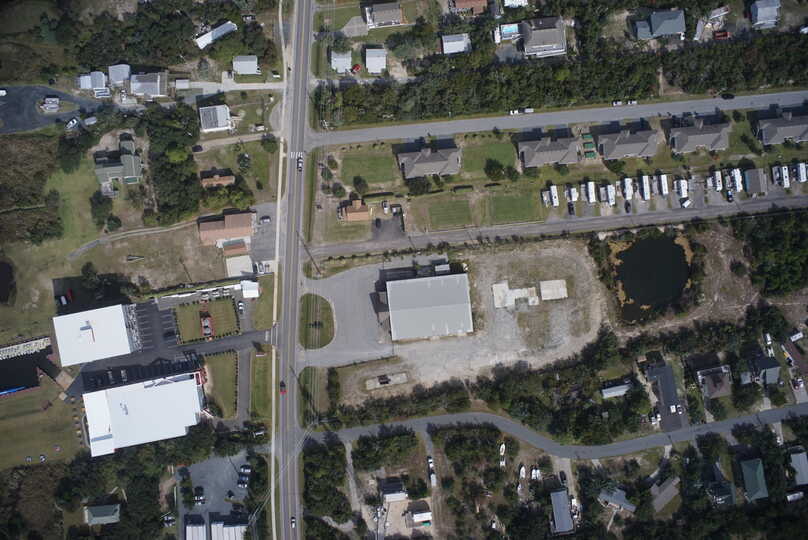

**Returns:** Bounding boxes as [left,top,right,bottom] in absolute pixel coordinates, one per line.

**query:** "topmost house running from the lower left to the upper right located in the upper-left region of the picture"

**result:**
[196,21,236,51]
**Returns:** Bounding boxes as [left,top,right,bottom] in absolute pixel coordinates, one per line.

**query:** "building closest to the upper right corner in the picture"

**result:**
[750,0,780,30]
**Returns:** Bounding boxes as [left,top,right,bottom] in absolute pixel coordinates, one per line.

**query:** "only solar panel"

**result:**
[202,107,219,129]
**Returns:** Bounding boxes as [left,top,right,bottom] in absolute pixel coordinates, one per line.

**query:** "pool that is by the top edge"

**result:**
[501,23,518,39]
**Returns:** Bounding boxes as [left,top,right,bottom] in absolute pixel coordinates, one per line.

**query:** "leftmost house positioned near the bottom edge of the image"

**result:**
[84,504,122,524]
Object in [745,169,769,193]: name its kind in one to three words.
building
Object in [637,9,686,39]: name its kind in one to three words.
house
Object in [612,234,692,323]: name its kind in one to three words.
pond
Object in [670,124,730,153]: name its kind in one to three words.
house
